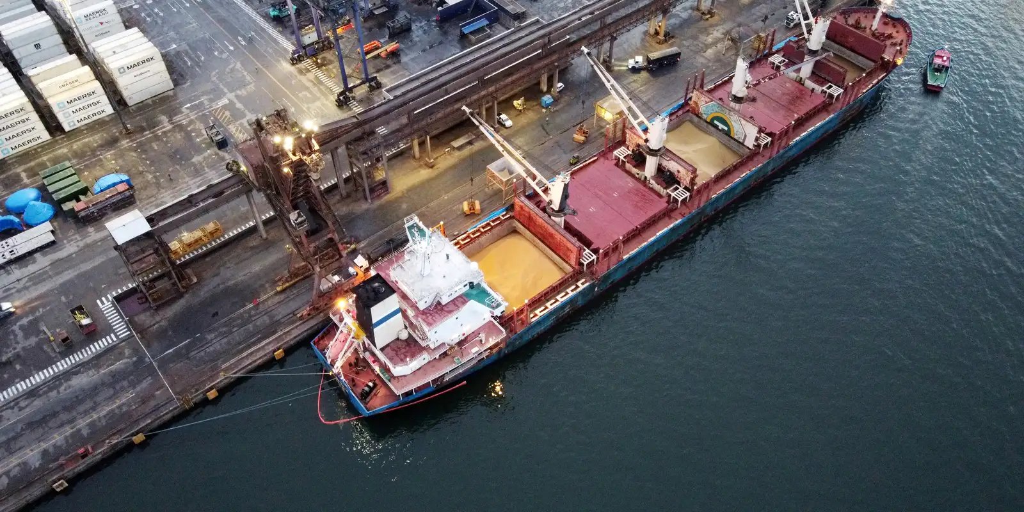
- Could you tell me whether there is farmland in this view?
No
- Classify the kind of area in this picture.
port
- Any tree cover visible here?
No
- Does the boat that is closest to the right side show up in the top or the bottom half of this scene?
top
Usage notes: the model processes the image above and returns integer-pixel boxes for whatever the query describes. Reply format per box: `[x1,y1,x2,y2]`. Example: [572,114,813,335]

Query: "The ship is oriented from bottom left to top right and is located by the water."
[311,0,912,419]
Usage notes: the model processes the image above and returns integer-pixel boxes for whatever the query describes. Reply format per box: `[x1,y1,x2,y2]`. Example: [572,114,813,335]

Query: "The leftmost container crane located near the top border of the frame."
[285,0,380,104]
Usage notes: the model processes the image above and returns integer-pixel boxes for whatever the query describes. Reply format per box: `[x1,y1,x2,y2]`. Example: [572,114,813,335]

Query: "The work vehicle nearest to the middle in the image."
[568,155,581,167]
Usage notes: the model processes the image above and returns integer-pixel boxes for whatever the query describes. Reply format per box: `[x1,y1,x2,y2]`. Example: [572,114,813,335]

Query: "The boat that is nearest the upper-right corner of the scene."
[926,48,952,93]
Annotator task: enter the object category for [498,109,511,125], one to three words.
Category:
vehicle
